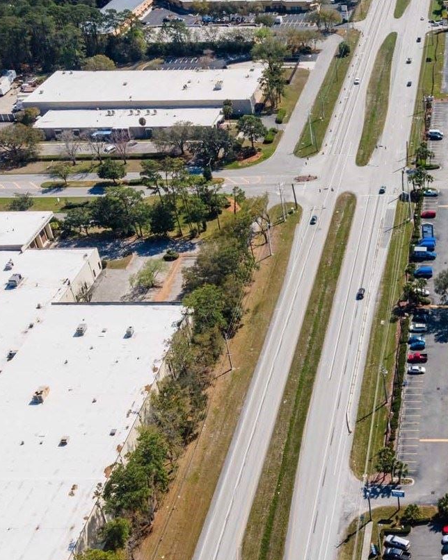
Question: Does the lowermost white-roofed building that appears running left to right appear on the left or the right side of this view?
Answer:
left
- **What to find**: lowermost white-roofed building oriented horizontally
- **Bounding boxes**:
[23,68,264,143]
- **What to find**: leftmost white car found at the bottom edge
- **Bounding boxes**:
[385,535,410,550]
